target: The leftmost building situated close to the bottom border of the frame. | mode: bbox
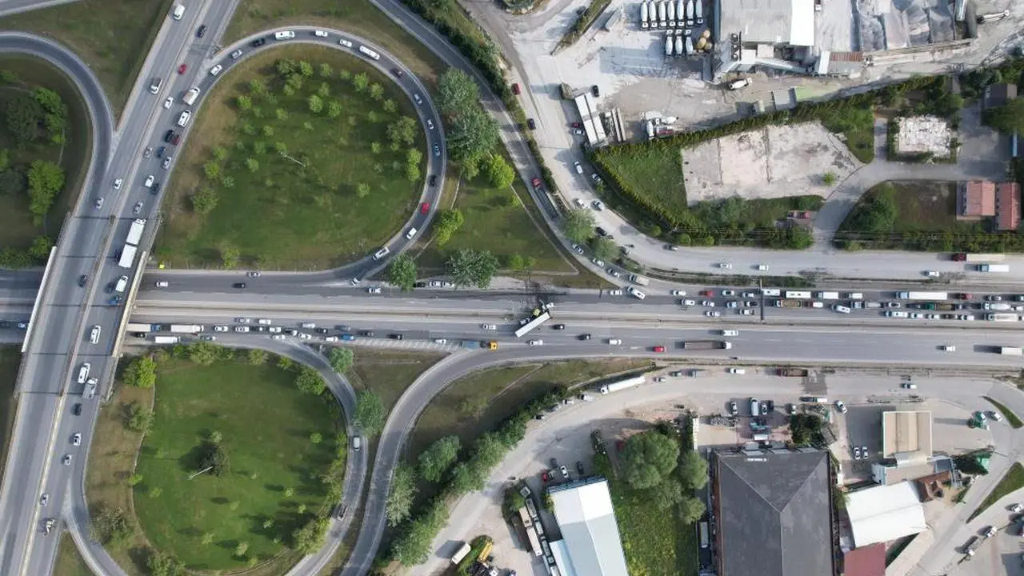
[549,475,627,576]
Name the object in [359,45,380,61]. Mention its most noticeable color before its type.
white vehicle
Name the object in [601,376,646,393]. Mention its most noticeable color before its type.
white vehicle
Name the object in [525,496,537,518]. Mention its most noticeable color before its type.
gray vehicle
